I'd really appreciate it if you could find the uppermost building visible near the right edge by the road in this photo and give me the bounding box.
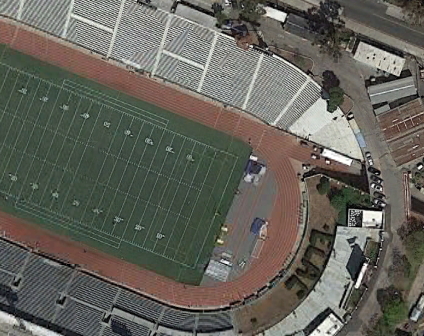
[354,42,405,76]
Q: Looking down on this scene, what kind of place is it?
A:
sports ground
